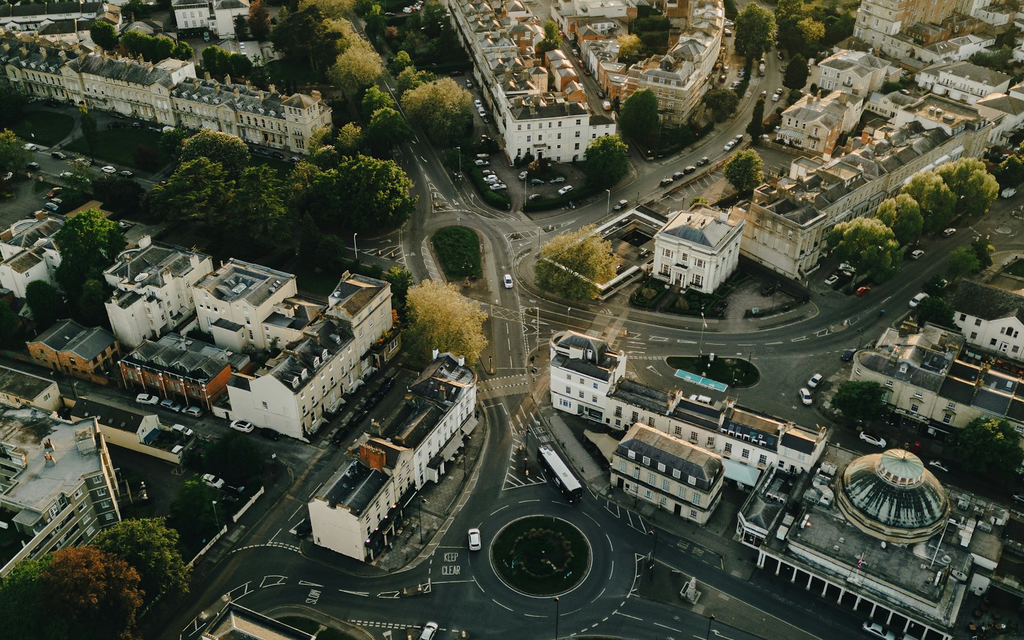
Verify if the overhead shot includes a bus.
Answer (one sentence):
Yes, there is a bus in the image.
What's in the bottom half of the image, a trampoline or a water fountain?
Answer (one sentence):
The feature located in the bottom half of the image is a water fountain.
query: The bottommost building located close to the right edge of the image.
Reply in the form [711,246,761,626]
[757,449,1024,640]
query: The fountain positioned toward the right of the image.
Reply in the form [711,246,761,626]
[676,578,705,611]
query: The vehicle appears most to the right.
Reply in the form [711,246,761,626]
[1000,186,1016,198]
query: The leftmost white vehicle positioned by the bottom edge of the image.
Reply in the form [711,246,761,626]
[419,619,439,640]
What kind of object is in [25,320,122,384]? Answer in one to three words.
building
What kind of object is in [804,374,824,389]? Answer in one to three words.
car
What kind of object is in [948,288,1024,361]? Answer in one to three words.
house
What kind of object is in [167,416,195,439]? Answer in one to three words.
vehicle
